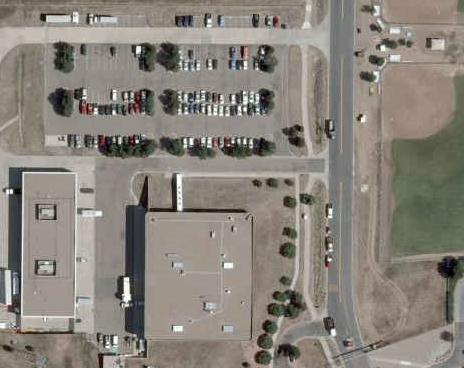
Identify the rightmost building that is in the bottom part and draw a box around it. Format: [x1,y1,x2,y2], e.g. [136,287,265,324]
[145,211,254,341]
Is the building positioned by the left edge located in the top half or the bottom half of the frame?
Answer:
bottom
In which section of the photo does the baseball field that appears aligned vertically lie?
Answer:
right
